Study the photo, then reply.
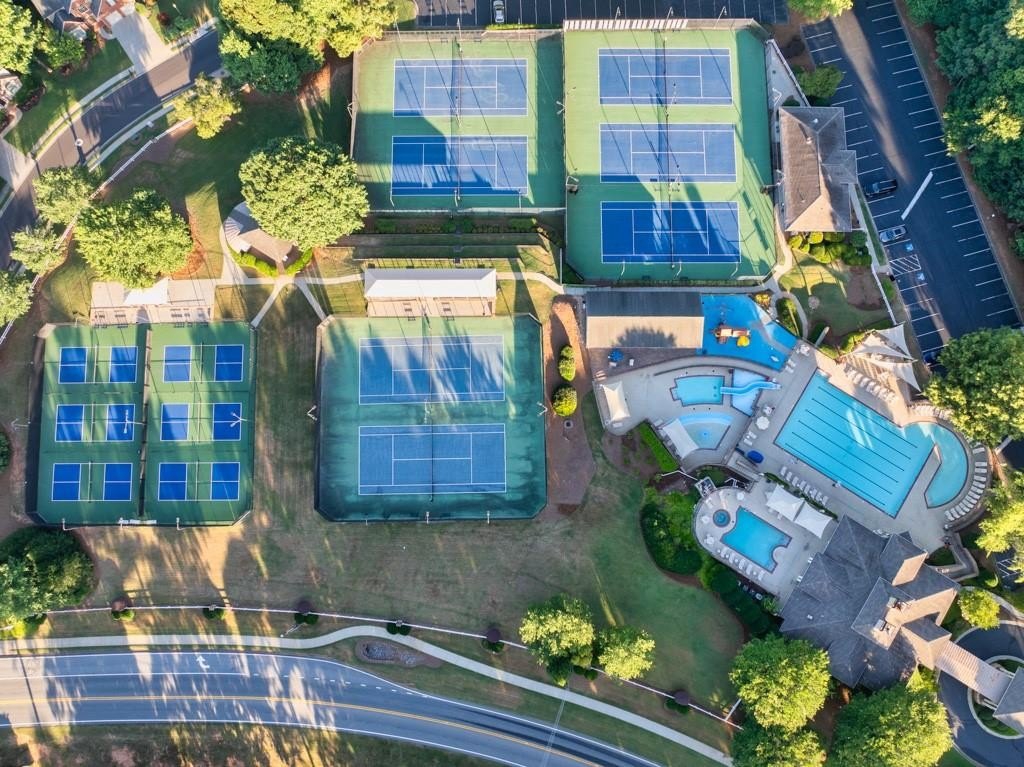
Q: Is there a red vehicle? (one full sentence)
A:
No, I find no red vehicle anywhere in the image.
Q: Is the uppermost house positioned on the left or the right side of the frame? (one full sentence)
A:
You can find the uppermost house on the left side of the picture.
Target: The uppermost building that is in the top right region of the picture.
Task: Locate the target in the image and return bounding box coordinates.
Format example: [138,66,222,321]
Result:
[774,107,860,235]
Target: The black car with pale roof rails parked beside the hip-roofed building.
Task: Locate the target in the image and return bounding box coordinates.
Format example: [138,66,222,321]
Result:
[867,179,898,197]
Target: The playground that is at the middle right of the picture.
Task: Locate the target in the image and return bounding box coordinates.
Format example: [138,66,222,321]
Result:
[702,292,799,372]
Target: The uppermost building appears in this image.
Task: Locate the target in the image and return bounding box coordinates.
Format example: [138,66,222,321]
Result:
[38,0,143,44]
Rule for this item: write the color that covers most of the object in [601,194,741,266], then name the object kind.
blue tennis court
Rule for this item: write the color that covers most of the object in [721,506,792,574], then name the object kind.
blue swimming pool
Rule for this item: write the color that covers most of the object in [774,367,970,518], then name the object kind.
blue swimming pool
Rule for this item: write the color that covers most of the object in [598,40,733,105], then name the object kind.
blue tennis court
